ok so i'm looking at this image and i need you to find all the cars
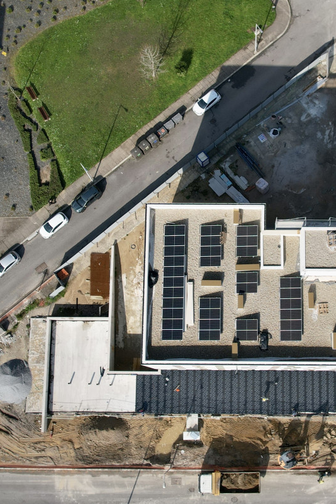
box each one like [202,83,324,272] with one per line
[192,89,221,116]
[71,180,103,211]
[38,211,70,239]
[0,250,24,279]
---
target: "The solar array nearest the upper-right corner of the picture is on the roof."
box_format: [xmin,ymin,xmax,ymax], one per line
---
[237,226,258,258]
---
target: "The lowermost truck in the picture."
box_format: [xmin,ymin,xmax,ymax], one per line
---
[198,473,265,499]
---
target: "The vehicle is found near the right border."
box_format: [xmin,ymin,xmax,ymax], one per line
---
[273,448,324,473]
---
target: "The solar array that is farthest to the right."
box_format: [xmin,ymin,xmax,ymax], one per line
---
[279,278,302,342]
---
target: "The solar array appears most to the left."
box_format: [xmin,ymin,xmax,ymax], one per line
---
[162,225,186,341]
